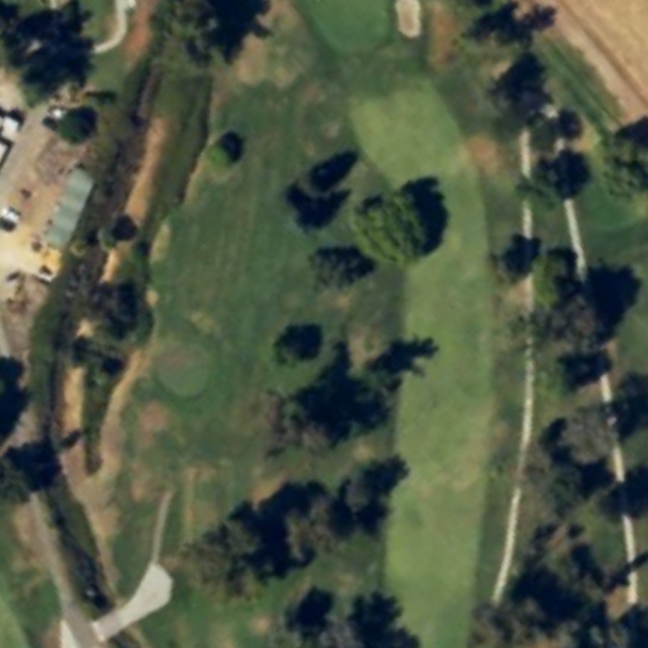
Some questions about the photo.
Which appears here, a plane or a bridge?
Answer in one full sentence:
There is a bridge in the scene.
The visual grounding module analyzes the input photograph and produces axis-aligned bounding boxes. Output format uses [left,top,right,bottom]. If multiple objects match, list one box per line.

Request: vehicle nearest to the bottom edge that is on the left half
[37,266,58,282]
